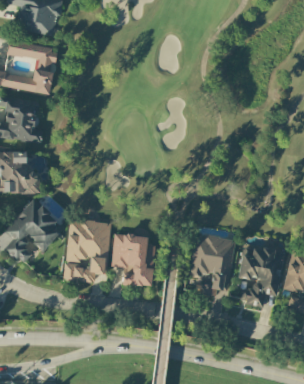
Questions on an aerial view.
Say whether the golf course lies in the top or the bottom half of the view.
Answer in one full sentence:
The top half of the photo is where the golf course is.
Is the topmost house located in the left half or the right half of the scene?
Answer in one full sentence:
The topmost house is on the left side of the image.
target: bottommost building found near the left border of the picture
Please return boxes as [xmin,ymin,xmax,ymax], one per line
[0,198,61,263]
